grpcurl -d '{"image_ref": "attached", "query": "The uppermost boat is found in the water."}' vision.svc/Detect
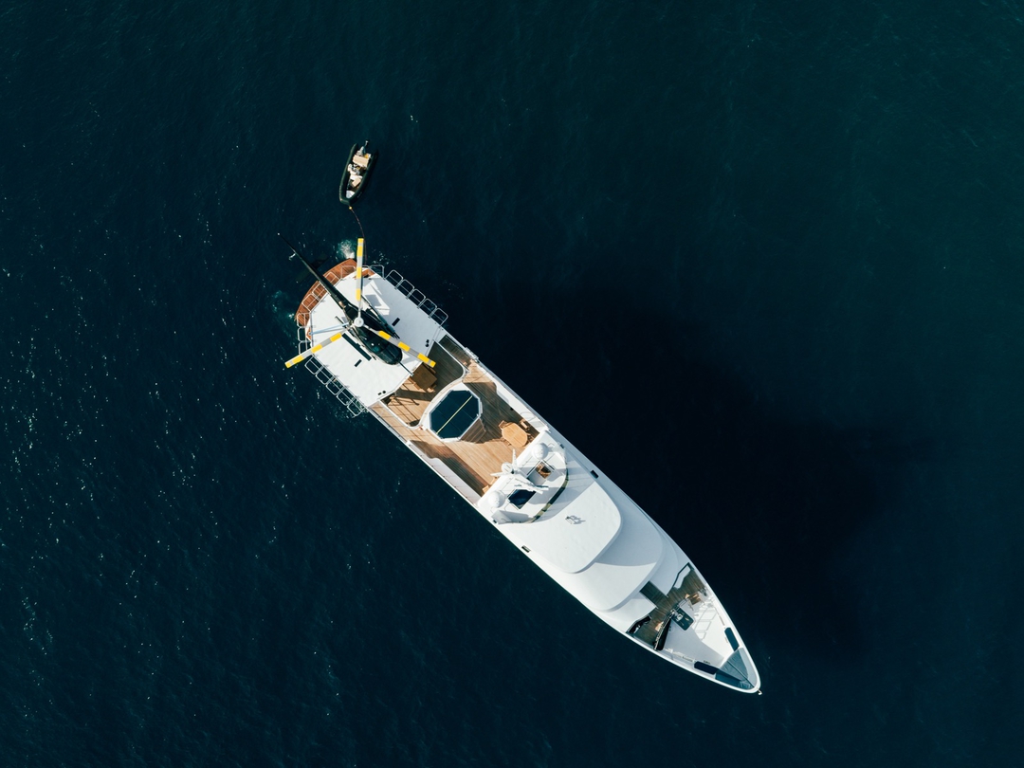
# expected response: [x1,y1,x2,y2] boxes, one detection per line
[339,141,378,205]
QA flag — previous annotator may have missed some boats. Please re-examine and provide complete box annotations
[339,141,378,205]
[294,257,762,693]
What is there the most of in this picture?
water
